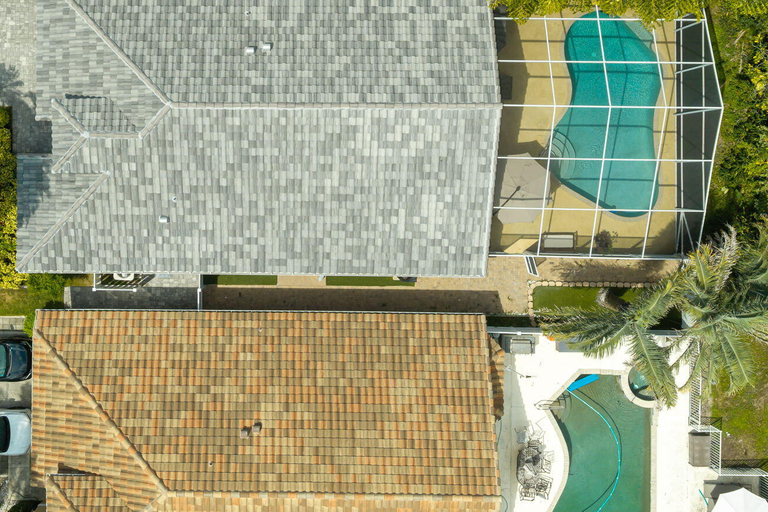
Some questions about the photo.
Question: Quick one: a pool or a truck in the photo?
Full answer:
I can see a pool in this picture.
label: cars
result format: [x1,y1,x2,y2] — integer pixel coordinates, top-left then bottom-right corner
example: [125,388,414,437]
[0,407,29,452]
[0,335,29,381]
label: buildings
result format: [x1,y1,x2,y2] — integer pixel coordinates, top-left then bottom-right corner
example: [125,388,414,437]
[15,0,503,277]
[28,308,506,512]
